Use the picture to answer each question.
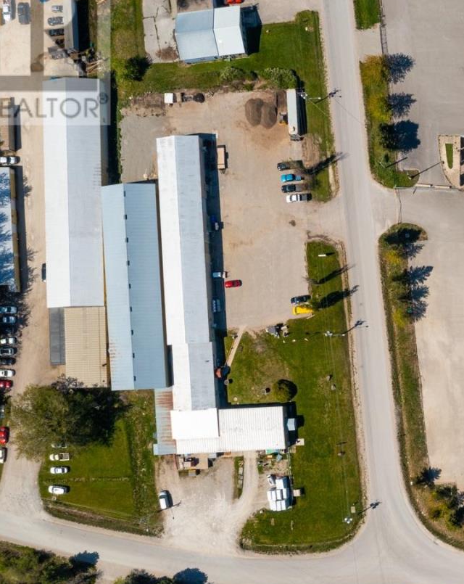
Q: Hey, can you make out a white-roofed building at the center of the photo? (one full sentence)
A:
Yes, a white-roofed building shows up at the center of the photo.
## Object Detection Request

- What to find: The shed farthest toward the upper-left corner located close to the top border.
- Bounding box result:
[62,0,81,54]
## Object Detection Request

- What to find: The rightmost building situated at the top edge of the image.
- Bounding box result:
[212,6,251,61]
